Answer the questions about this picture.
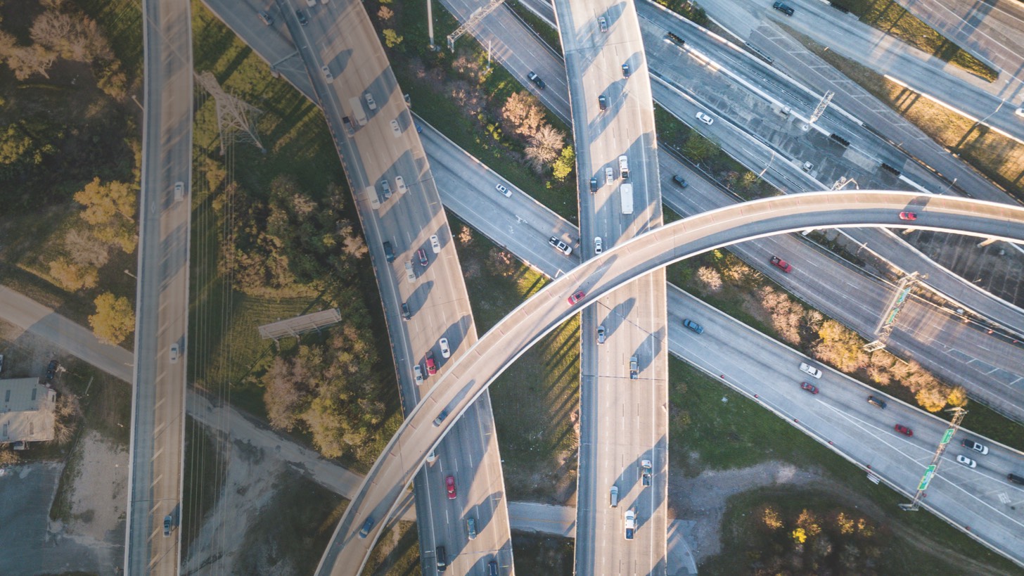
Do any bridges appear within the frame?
Yes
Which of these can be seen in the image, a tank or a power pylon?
power pylon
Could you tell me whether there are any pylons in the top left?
Yes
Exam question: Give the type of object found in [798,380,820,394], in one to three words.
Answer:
car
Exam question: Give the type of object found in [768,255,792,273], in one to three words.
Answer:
vehicle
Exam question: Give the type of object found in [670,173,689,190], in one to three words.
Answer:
car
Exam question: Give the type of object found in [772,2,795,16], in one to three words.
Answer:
vehicle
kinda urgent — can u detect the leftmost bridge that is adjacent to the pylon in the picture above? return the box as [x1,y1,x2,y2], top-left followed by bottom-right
[123,0,195,576]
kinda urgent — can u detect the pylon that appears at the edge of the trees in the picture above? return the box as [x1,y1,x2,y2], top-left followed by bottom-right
[195,76,267,155]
